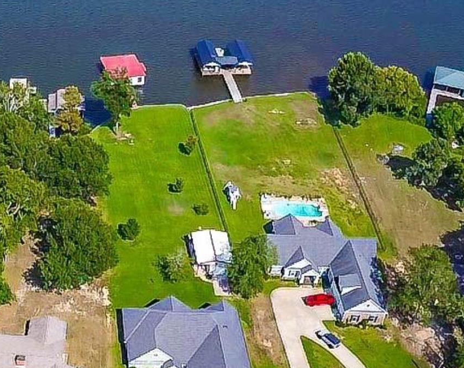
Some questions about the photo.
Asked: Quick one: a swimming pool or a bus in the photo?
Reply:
swimming pool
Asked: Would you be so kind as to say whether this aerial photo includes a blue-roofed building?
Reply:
Yes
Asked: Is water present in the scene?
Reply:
Yes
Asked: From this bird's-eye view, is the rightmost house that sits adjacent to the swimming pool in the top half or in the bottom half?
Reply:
bottom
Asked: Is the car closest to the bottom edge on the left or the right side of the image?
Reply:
right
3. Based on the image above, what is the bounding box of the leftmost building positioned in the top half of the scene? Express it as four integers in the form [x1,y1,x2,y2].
[47,90,89,127]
